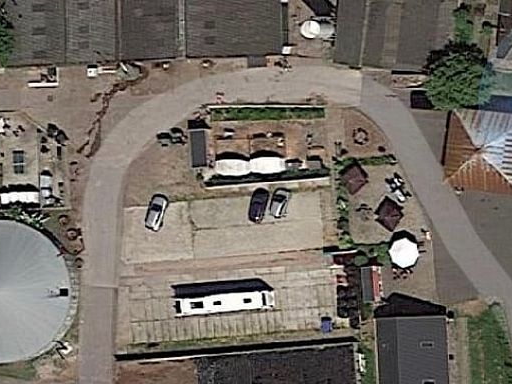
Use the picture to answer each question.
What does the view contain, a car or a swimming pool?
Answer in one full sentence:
The one in the frame is a car.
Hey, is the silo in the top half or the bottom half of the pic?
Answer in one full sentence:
Seen from above, the silo lies in the top half of the view.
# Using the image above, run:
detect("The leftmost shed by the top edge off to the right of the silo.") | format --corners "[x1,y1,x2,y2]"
[335,0,465,72]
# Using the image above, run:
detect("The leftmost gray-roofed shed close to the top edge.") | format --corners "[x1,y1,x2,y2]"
[2,0,116,67]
